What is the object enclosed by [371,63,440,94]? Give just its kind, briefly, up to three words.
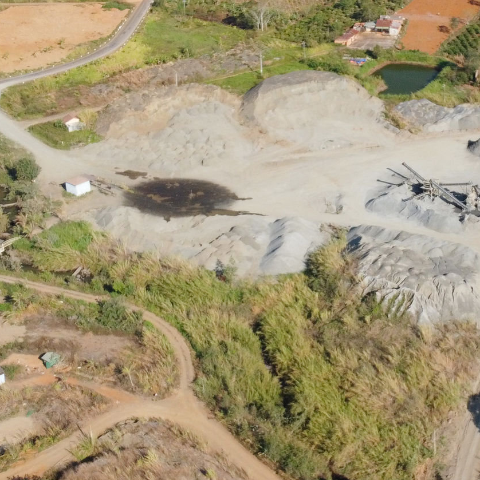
pond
